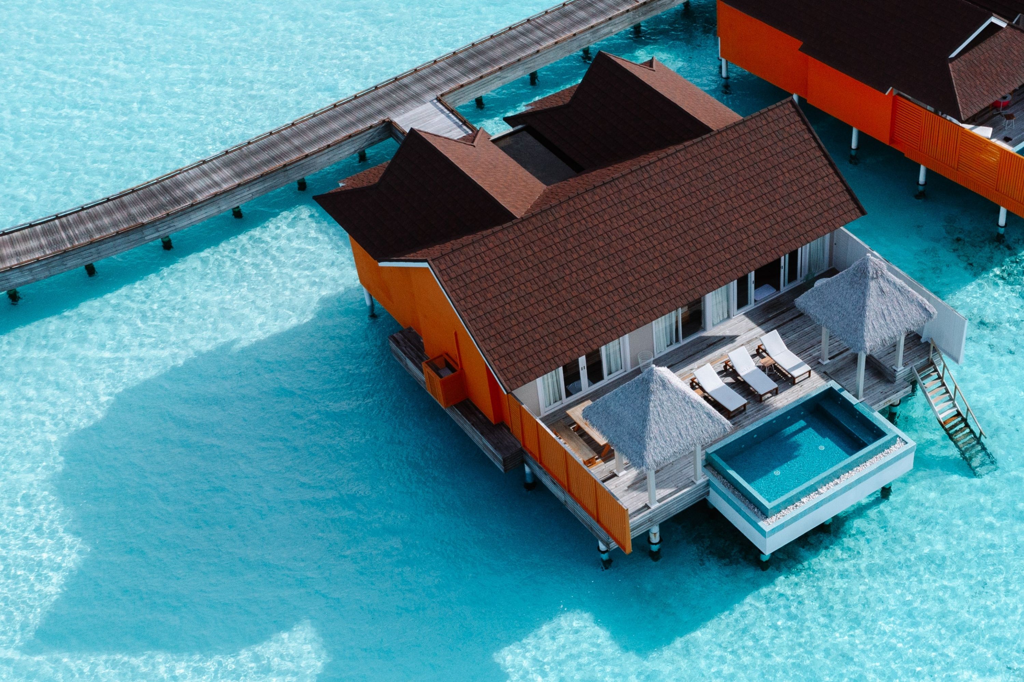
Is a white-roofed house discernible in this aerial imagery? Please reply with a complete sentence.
No, there's no white-roofed house here.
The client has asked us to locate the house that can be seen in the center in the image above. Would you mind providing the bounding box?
[315,50,867,507]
